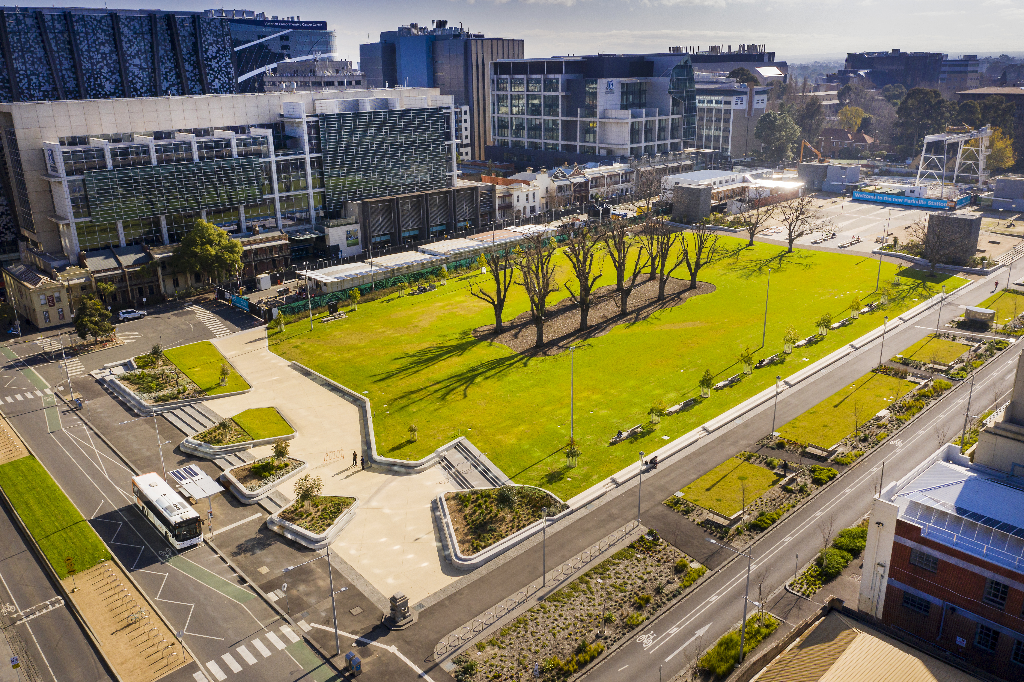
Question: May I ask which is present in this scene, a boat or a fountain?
fountain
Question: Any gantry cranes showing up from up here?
Yes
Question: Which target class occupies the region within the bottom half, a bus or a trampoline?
bus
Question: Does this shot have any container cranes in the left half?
No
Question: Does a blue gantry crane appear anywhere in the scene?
No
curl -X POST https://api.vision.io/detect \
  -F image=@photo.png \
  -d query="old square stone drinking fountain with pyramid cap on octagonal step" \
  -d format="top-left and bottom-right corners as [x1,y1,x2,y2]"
[379,583,420,632]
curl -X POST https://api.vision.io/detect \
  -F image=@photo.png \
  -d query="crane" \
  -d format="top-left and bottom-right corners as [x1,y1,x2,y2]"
[917,122,998,197]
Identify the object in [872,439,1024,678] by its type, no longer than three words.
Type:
building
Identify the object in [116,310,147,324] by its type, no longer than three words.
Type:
car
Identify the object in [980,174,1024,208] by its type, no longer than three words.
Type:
house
